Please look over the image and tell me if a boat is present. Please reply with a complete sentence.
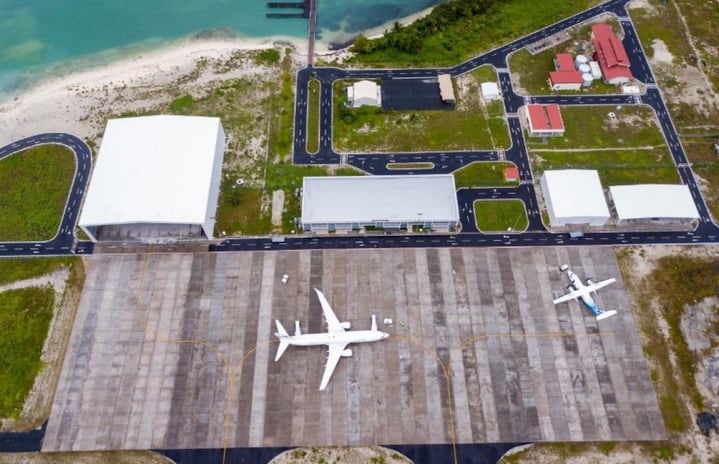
No, the frame has no boat in it.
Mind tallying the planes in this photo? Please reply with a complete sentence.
There are 2 planes in the image.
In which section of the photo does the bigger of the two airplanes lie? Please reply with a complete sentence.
Look in the bottom portion of the view to spot the bigger of the two airplanes.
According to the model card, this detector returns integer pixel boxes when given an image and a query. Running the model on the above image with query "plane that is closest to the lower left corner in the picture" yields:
[270,288,390,392]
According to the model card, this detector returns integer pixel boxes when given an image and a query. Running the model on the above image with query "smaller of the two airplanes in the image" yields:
[551,270,617,324]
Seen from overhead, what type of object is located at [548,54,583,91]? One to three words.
building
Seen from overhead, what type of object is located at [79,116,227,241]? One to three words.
hangar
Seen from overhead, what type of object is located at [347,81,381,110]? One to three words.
house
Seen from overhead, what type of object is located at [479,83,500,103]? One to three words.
shed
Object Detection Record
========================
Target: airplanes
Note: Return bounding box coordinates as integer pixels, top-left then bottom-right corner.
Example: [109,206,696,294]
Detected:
[270,288,390,392]
[551,270,617,324]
